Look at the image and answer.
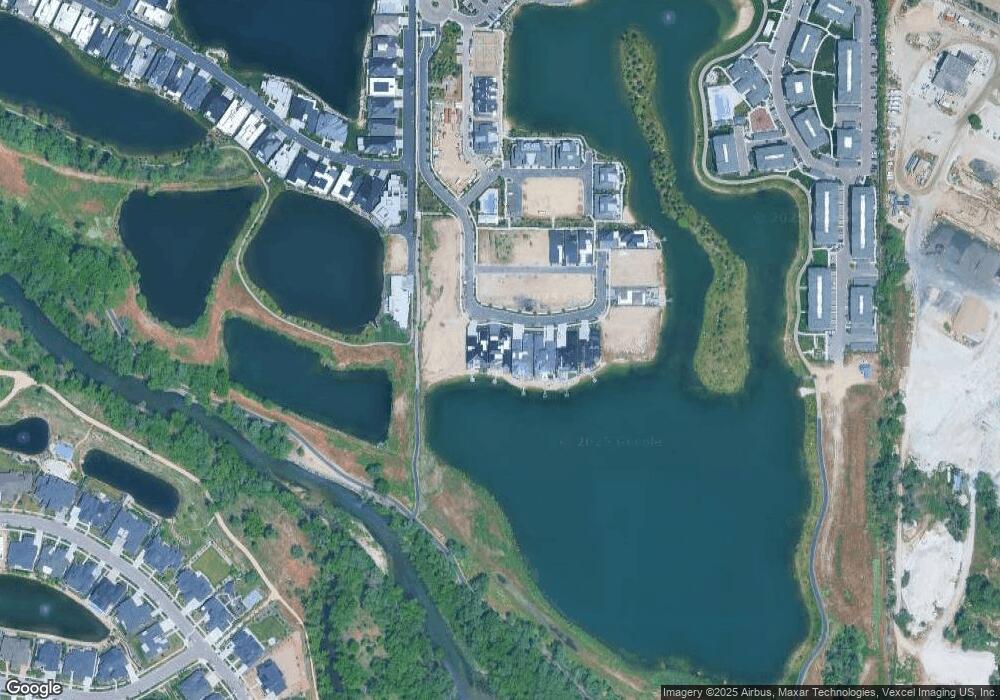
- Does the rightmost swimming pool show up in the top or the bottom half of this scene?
top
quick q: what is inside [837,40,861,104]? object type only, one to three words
building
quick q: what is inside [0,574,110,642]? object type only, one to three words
pond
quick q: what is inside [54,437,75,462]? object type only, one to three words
swimming pool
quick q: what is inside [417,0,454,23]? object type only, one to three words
roundabout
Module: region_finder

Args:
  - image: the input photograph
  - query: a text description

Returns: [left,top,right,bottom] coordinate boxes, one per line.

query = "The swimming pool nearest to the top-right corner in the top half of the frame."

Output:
[708,86,745,125]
